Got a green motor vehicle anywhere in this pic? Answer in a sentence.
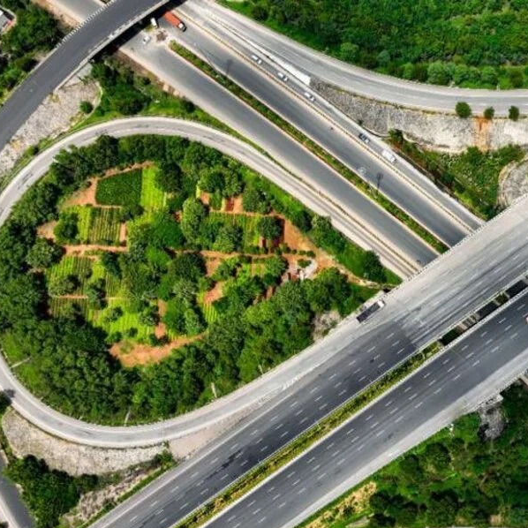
No, the scene contains no green motor vehicle.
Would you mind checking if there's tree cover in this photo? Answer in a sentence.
Yes, tree cover shows up in the scene.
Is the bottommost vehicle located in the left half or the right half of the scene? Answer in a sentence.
The bottommost vehicle sits on the right side.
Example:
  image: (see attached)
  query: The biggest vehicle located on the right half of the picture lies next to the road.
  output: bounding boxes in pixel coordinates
[357,300,382,320]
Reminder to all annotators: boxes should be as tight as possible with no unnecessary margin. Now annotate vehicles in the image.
[303,91,315,100]
[251,54,262,64]
[276,71,288,81]
[358,133,370,143]
[357,300,382,320]
[381,147,395,160]
[158,6,185,29]
[149,14,158,27]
